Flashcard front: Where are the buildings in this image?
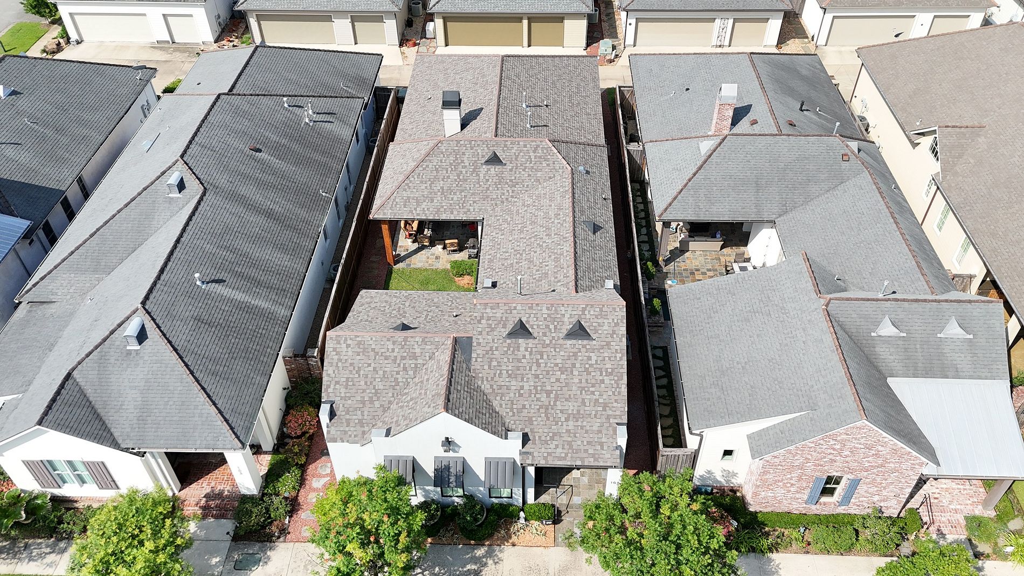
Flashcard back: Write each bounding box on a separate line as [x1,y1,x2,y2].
[426,0,596,47]
[620,0,794,48]
[319,54,630,523]
[797,0,1001,46]
[628,51,1024,533]
[46,0,239,43]
[241,0,410,45]
[0,45,383,518]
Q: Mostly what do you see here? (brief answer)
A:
buildings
